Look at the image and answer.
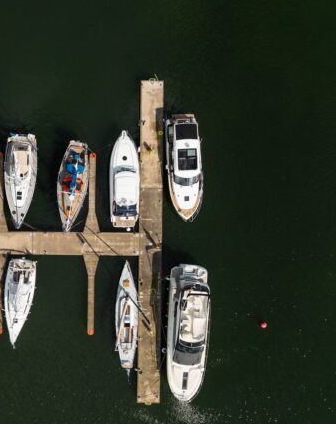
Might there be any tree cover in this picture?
No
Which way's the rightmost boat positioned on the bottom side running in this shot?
from top to bottom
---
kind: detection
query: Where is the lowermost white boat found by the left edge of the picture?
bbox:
[1,256,38,351]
